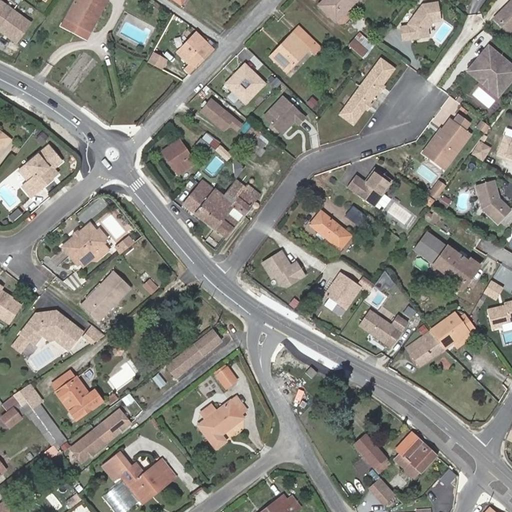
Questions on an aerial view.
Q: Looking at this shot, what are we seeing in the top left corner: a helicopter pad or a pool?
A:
pool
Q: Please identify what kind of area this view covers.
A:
residential area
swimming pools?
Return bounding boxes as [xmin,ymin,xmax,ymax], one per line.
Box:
[116,12,155,48]
[26,340,68,373]
[455,187,474,214]
[430,19,454,47]
[0,170,24,212]
[416,160,442,188]
[82,366,94,384]
[467,84,502,113]
[364,288,387,310]
[202,154,226,178]
[500,330,512,346]
[98,208,136,245]
[386,199,418,231]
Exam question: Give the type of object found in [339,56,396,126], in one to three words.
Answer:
house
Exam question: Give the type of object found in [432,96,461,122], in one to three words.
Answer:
shed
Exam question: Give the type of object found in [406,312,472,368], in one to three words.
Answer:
house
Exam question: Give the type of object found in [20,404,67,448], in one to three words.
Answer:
barn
